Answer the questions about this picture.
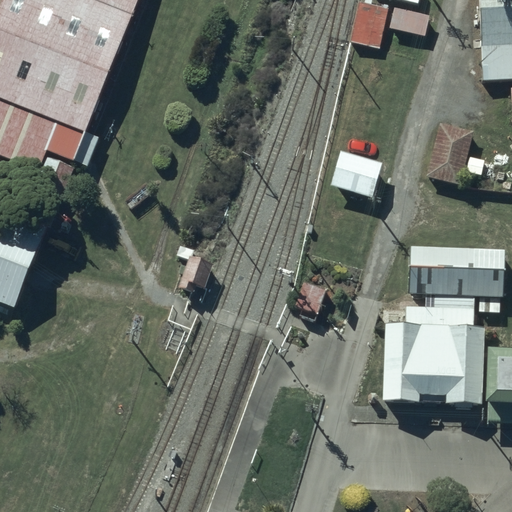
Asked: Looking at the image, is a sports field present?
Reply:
No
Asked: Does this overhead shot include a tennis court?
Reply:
No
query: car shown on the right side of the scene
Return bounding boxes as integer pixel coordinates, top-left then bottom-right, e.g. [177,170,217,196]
[348,141,378,157]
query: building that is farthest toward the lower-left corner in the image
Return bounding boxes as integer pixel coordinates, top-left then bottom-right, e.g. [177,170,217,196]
[0,220,42,319]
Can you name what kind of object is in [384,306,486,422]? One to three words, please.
building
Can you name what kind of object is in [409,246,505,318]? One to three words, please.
house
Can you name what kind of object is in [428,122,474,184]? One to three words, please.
house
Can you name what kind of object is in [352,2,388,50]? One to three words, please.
shed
